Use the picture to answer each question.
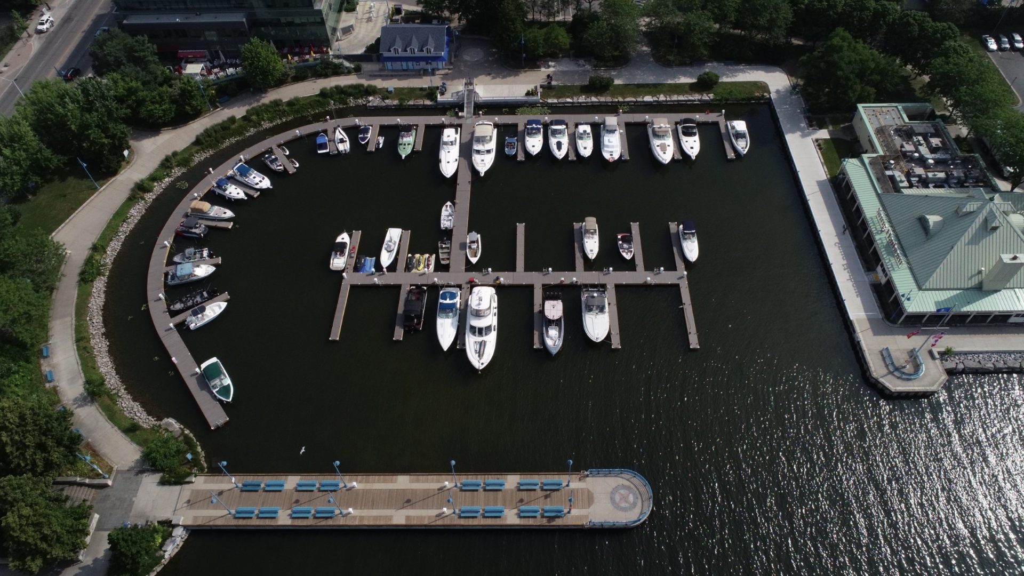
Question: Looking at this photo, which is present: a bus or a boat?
boat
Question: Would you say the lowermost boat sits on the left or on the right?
left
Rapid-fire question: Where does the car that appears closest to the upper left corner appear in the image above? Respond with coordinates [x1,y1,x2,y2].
[36,7,53,29]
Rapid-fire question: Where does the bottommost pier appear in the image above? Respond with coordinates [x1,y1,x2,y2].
[183,469,650,530]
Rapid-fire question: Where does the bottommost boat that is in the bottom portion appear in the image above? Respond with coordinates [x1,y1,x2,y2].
[199,355,232,401]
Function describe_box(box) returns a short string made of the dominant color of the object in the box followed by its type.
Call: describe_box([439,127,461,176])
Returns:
white boat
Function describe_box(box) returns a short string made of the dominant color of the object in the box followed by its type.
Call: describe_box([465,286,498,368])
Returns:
white boat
